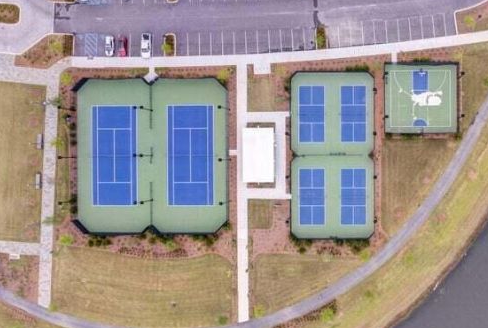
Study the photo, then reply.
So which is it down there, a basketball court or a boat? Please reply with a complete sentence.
There is a basketball court in the scene.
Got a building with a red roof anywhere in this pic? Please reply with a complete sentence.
No, no building with a red roof is visible in the view.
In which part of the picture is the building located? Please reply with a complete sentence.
The building sits in the center section of the image.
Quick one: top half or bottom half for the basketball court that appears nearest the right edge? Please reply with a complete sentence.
The top half of the photo is where the basketball court that appears nearest the right edge is.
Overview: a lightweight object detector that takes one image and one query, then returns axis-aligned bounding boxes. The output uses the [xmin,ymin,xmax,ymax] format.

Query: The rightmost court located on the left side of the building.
[151,79,228,234]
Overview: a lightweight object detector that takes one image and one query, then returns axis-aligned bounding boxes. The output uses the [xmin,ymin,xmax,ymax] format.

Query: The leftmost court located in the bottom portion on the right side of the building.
[291,155,332,240]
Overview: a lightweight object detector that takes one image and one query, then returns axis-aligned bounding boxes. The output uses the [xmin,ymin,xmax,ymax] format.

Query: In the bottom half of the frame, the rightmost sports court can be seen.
[332,155,374,240]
